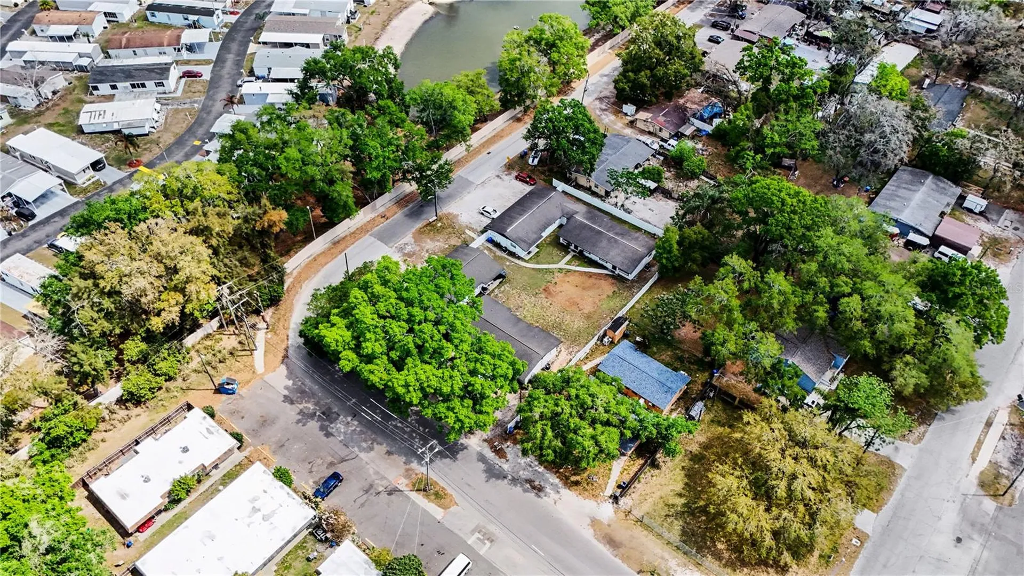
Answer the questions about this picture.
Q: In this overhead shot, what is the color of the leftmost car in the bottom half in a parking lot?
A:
blue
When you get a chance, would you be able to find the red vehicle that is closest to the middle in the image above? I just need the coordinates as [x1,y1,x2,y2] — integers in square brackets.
[516,172,535,184]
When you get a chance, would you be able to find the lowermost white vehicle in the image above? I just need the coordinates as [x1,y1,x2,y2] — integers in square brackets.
[437,550,470,576]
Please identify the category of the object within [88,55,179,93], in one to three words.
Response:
house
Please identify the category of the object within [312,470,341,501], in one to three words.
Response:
car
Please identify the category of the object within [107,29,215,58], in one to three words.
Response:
house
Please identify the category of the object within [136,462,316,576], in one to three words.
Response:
building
